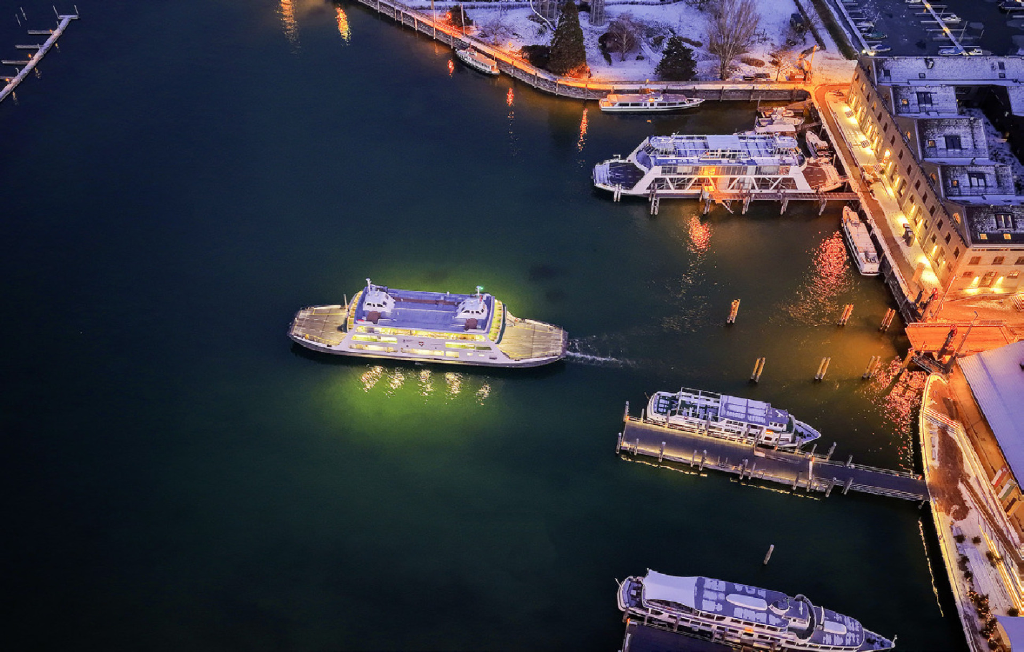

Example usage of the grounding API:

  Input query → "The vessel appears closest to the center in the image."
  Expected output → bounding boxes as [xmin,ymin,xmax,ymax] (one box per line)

[286,278,571,373]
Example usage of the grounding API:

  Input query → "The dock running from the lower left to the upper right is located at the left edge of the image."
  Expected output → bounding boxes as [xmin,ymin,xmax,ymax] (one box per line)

[0,15,80,104]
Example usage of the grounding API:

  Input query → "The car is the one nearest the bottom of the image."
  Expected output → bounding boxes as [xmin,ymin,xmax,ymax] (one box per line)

[902,226,916,239]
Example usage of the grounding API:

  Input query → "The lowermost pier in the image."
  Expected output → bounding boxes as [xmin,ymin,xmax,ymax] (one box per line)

[624,617,773,652]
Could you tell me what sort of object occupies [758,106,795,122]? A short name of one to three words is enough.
boat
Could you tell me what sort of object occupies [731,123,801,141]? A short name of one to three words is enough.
boat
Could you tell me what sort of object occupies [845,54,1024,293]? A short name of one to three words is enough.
warehouse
